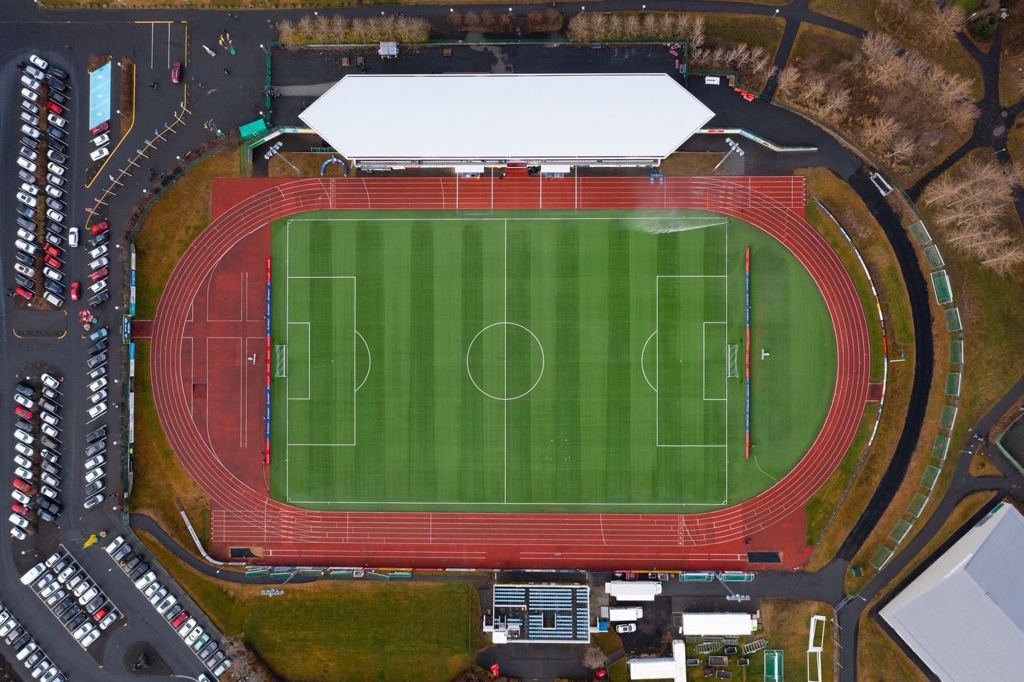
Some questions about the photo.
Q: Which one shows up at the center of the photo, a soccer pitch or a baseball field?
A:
soccer pitch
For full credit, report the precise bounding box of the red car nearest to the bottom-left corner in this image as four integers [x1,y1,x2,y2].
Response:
[93,607,108,622]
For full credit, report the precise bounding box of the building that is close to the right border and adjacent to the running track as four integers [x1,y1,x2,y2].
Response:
[879,502,1024,682]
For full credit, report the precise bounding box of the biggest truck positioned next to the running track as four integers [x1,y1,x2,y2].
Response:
[604,577,660,601]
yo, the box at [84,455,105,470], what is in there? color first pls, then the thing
white car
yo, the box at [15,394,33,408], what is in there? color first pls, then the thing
white car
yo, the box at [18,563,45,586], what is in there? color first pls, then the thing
white vehicle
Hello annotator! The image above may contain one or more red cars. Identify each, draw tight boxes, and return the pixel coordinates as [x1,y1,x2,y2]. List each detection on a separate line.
[15,405,33,419]
[44,254,64,269]
[11,502,28,514]
[91,122,109,135]
[171,62,182,83]
[70,281,81,301]
[171,612,188,628]
[90,267,109,281]
[44,243,62,257]
[47,101,65,114]
[90,222,109,236]
[12,478,30,492]
[16,286,34,299]
[93,607,108,622]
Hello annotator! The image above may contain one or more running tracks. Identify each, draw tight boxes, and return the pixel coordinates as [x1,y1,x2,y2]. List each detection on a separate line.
[131,175,882,571]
